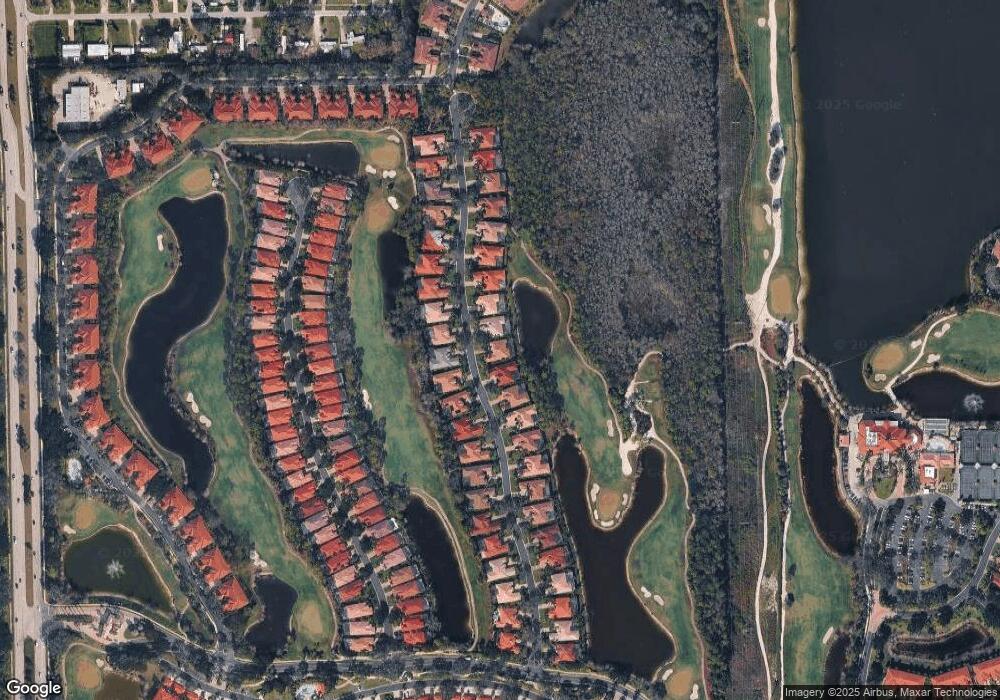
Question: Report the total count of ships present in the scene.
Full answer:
The picture shows no ships.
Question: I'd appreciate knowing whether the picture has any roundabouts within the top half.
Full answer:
No, I see no roundabout within the top half.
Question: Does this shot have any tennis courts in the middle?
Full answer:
No, the scene shows no tennis court in the middle.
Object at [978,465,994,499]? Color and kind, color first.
gray tennis court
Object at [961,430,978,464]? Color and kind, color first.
gray tennis court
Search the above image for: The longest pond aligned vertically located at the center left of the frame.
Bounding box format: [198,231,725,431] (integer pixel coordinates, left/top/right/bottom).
[125,191,229,493]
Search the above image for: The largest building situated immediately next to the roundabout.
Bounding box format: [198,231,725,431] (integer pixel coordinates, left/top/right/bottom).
[859,421,927,462]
